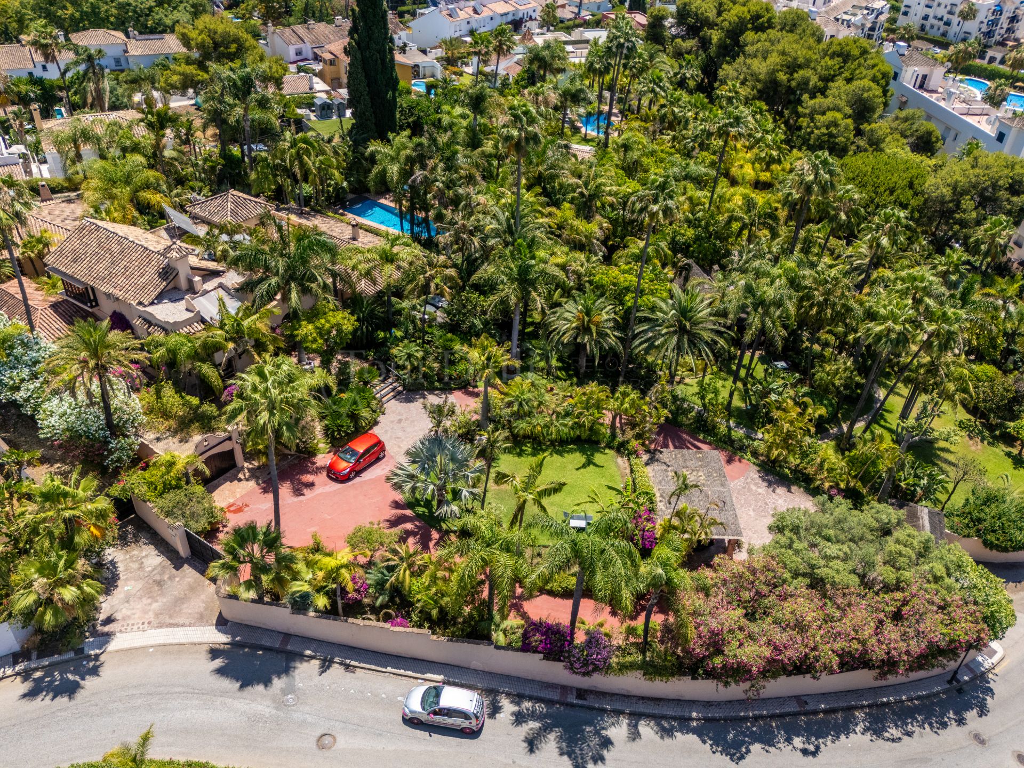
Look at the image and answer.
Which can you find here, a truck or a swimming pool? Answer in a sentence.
Visible in the photo is a swimming pool.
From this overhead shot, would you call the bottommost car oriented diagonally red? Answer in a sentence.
Yes, the bottommost car oriented diagonally appears red.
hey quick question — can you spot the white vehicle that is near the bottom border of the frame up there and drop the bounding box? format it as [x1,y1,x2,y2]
[400,679,488,735]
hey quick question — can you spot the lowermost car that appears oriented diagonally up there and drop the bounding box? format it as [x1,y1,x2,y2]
[327,431,388,479]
